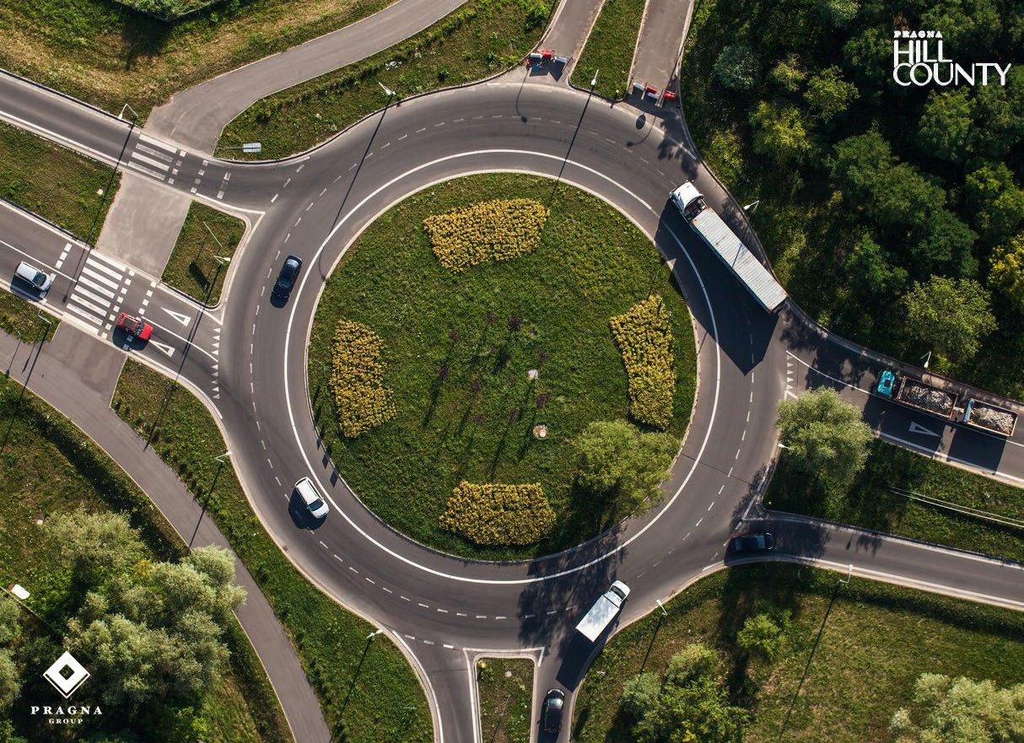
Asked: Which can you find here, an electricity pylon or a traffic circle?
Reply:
traffic circle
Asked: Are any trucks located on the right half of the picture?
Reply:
Yes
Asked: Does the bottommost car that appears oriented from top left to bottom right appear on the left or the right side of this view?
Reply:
left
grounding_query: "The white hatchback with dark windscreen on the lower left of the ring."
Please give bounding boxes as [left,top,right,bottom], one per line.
[294,476,328,518]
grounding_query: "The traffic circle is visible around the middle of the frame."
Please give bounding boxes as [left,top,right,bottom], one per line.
[220,85,787,650]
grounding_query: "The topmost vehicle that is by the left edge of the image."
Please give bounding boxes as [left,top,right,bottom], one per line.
[13,261,52,289]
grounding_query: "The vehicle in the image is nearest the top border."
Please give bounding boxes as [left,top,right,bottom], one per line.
[667,182,706,224]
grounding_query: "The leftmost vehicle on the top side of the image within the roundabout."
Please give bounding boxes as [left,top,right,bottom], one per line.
[273,256,300,298]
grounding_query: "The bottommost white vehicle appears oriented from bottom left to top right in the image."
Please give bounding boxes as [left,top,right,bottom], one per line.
[573,583,626,643]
